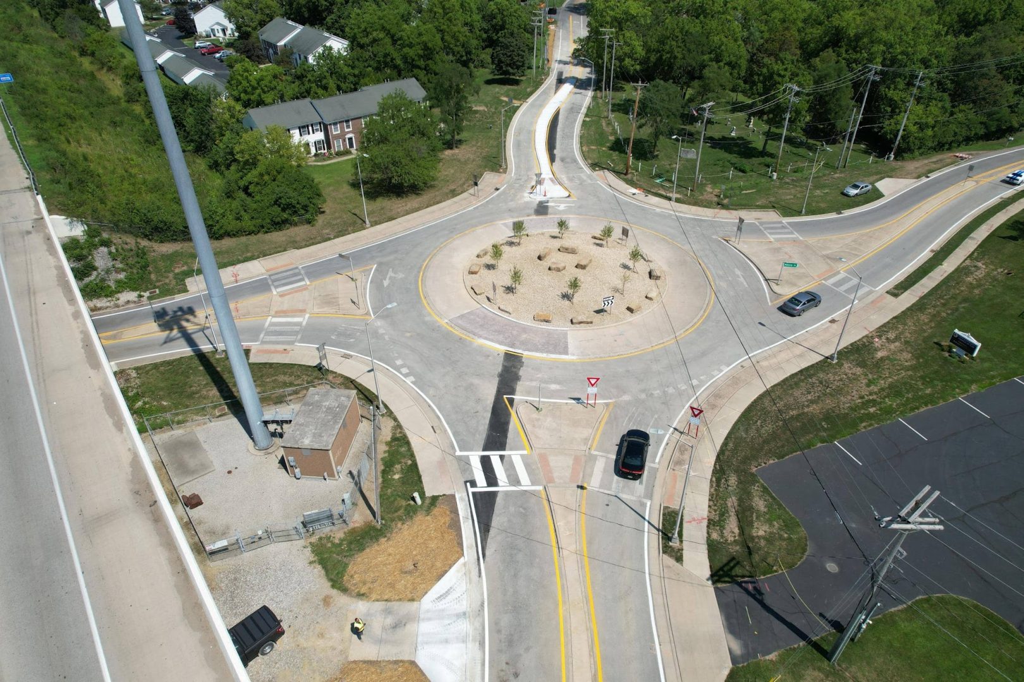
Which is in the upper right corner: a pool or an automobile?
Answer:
automobile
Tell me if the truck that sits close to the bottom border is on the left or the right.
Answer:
left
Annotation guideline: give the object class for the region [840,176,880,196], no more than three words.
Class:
car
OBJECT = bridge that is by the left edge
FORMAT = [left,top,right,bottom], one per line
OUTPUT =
[0,195,252,682]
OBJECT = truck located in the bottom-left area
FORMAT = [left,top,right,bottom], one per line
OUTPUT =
[229,603,290,670]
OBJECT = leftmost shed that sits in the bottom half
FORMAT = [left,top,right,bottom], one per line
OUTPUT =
[278,392,356,480]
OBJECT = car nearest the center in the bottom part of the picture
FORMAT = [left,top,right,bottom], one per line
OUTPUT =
[615,424,653,483]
